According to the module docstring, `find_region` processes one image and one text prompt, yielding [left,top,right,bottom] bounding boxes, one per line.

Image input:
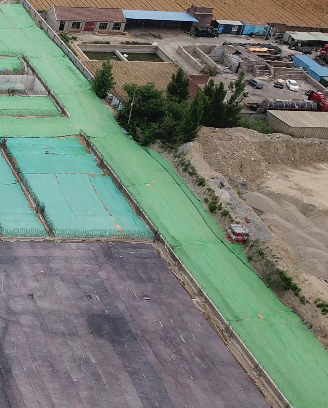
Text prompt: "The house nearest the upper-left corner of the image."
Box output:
[46,1,130,37]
